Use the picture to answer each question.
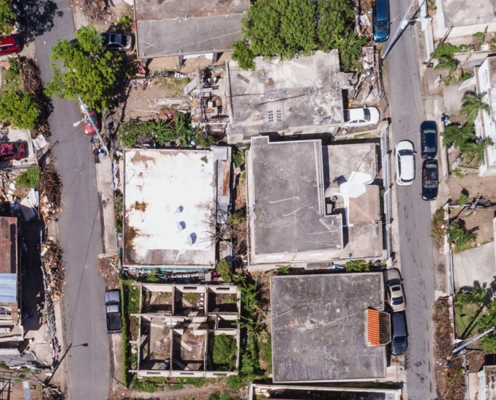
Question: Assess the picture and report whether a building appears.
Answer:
Yes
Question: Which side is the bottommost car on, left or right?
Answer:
right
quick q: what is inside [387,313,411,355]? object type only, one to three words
car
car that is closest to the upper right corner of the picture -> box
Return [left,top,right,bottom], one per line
[369,0,393,43]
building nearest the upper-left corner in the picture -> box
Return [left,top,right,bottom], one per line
[131,0,247,73]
